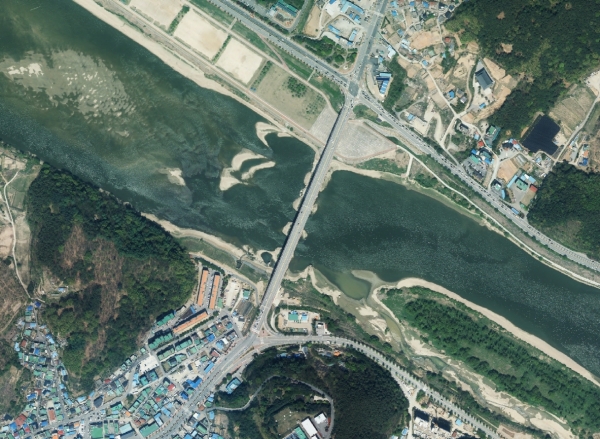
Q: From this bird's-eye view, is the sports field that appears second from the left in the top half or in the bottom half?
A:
top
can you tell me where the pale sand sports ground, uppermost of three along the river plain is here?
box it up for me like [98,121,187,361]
[129,0,184,30]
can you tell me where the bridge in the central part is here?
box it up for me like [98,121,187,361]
[254,89,359,329]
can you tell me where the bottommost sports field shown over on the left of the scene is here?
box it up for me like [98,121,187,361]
[217,38,263,83]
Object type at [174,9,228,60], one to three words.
sports field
